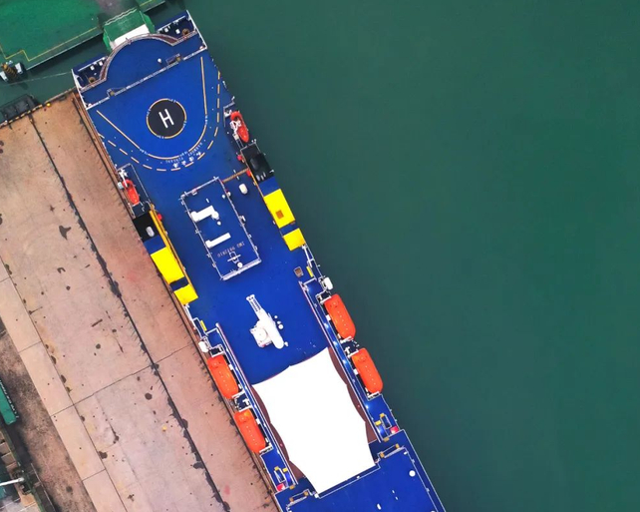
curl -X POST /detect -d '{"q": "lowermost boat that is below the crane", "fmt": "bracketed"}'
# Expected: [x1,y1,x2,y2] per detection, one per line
[232,406,267,454]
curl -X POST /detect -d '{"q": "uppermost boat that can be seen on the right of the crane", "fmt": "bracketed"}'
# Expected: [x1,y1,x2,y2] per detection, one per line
[323,292,357,339]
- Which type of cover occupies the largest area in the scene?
water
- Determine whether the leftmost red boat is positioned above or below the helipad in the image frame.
below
